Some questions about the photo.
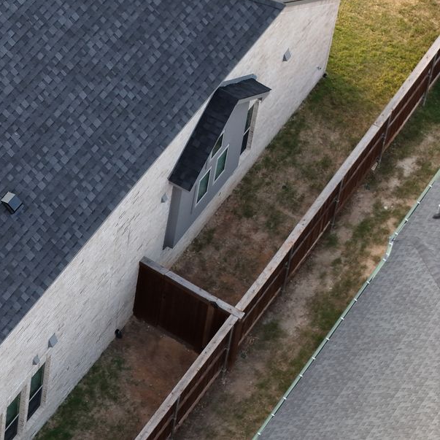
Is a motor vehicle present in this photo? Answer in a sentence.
No, the photo shows no motor vehicle.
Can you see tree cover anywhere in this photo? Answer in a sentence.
No, tree cover can't be seen anywhere here.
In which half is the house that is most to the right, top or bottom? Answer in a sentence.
You can find the house that is most to the right in the bottom half.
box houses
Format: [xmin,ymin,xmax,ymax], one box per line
[0,0,340,440]
[250,168,440,440]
